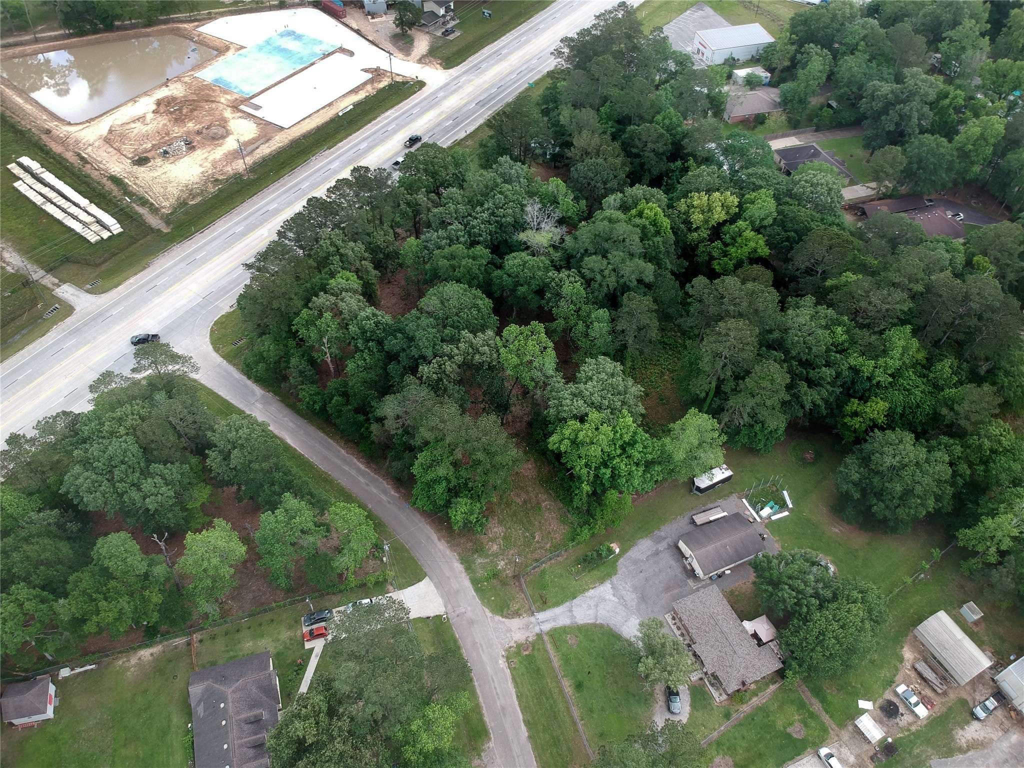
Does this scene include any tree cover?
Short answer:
Yes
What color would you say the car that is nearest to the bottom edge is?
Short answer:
white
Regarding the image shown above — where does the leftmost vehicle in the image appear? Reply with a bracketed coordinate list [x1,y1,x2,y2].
[131,333,161,346]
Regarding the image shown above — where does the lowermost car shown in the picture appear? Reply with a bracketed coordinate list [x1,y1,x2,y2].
[815,745,843,768]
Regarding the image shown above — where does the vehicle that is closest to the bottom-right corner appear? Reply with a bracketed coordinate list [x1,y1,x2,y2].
[970,691,1007,722]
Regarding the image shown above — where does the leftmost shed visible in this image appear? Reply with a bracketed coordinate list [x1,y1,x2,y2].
[2,677,63,726]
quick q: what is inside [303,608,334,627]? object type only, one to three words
car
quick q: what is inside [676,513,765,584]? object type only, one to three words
building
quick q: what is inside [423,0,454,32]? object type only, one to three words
house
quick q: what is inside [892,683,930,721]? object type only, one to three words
car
